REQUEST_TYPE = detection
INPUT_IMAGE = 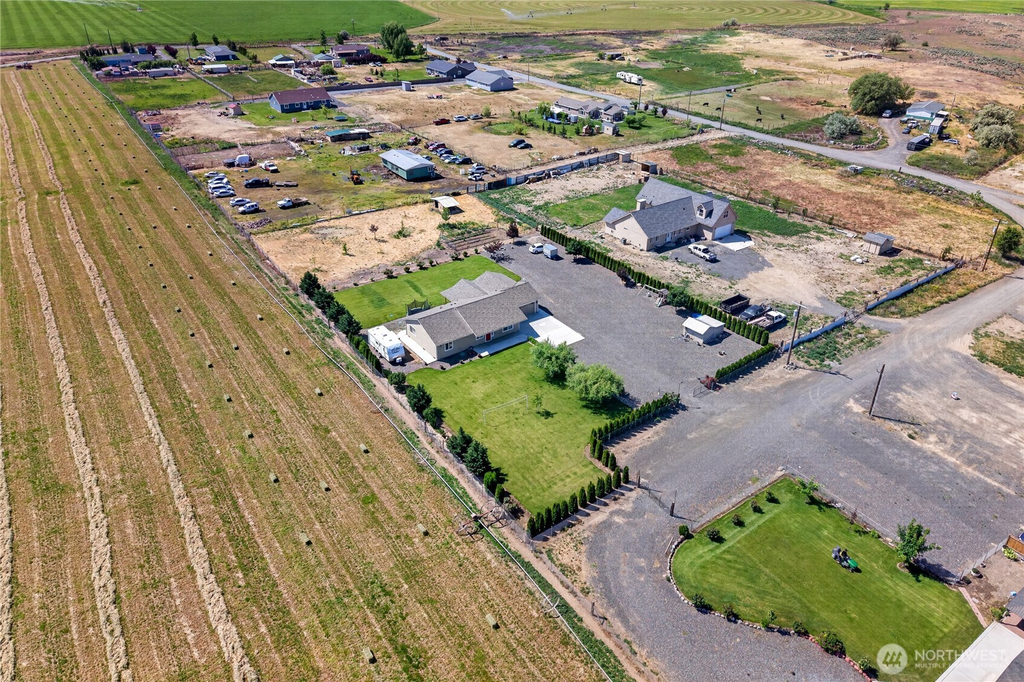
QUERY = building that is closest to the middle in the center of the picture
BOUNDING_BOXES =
[397,271,546,360]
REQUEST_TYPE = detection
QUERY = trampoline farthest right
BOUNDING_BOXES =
[404,291,430,312]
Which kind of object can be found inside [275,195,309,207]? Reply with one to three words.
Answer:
vehicle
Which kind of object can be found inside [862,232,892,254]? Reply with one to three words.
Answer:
shed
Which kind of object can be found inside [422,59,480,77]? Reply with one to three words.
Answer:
house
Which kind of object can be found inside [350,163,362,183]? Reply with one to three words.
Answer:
vehicle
